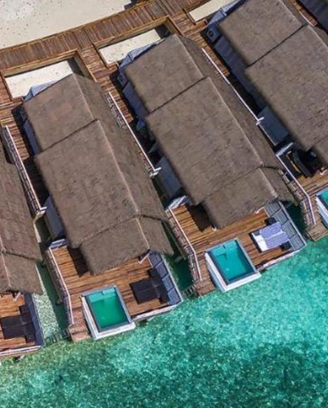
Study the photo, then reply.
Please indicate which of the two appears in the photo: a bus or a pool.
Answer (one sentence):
I can see a pool in this picture.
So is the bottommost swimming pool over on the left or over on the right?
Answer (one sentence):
The bottommost swimming pool appears in the left half of the scene.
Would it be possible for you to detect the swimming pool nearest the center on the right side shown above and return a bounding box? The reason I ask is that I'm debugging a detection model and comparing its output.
[201,238,261,296]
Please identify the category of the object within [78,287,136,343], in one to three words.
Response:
swimming pool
